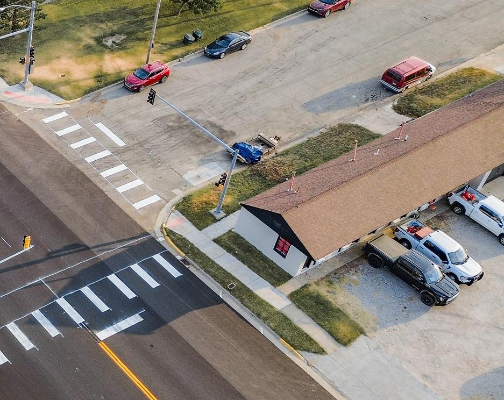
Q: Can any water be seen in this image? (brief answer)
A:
No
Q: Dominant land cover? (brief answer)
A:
paved ground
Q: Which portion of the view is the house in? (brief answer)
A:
right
